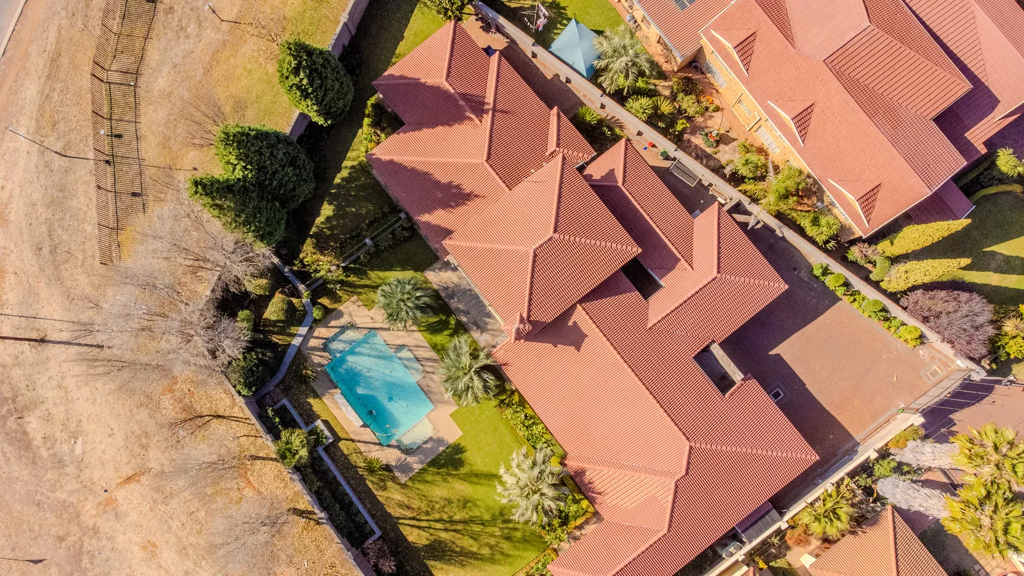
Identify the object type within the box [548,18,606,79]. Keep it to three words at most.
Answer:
gazebo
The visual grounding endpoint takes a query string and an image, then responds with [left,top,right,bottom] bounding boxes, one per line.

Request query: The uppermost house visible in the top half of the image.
[617,0,1024,237]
